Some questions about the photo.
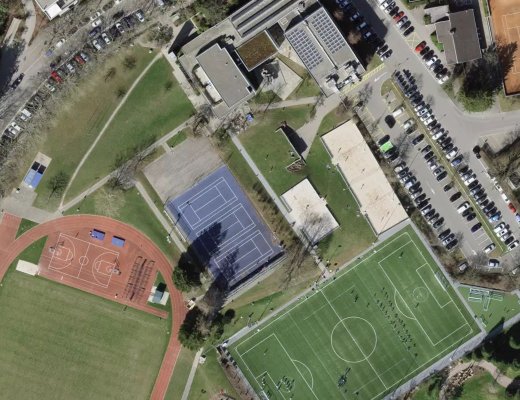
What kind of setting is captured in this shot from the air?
sports ground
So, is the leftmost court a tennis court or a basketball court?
basketball court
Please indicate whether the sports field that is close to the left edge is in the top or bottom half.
bottom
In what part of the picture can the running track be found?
bottom left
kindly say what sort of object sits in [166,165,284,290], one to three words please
tennis court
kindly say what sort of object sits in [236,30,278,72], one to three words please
building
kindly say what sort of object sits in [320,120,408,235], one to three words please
building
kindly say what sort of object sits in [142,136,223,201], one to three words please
sports court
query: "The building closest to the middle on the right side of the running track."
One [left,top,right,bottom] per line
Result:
[281,178,340,245]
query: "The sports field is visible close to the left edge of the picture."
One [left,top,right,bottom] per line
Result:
[0,236,172,400]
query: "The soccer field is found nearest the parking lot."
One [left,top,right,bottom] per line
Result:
[228,224,478,400]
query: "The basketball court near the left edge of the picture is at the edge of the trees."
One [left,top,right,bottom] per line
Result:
[26,226,171,319]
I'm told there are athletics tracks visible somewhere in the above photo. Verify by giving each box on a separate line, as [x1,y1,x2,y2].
[0,211,186,400]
